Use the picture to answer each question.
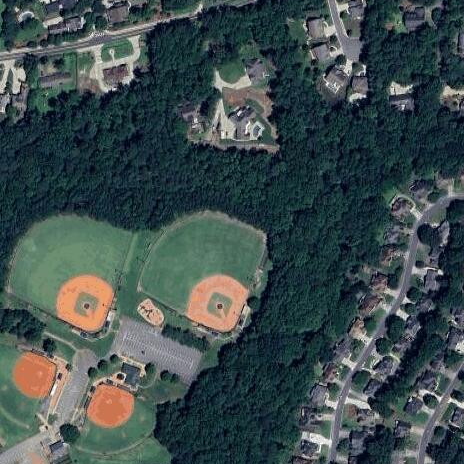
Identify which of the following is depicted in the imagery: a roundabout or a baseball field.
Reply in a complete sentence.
Of the two, only a baseball field appears.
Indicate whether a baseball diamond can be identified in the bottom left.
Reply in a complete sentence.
Yes, a baseball diamond shows up in the bottom left.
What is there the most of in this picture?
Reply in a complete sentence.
Most of the picture is covered by trees.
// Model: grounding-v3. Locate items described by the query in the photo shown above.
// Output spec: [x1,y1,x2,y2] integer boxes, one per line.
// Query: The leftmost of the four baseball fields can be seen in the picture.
[0,331,63,454]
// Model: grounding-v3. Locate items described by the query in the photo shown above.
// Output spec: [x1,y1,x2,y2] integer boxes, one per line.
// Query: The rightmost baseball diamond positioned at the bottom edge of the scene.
[75,376,154,455]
